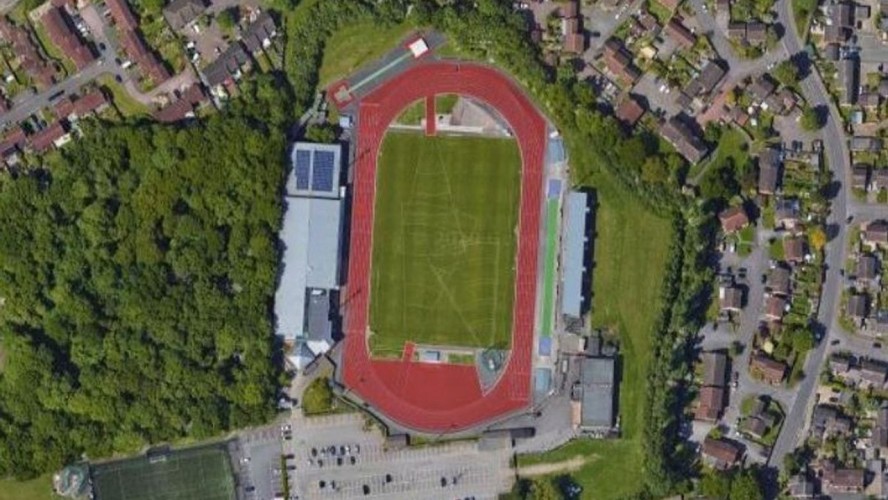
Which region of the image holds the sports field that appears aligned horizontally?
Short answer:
bottom left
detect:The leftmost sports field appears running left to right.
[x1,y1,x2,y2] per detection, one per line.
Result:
[90,440,238,500]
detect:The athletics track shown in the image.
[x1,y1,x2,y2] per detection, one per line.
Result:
[342,62,547,432]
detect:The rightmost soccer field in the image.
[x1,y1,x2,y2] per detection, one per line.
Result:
[367,94,523,361]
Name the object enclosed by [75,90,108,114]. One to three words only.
house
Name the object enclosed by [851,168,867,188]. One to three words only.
house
